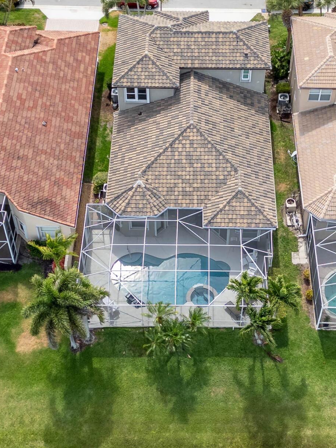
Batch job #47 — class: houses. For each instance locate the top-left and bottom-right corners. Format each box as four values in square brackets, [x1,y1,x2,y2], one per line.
[0,26,102,248]
[103,8,280,251]
[287,9,336,245]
